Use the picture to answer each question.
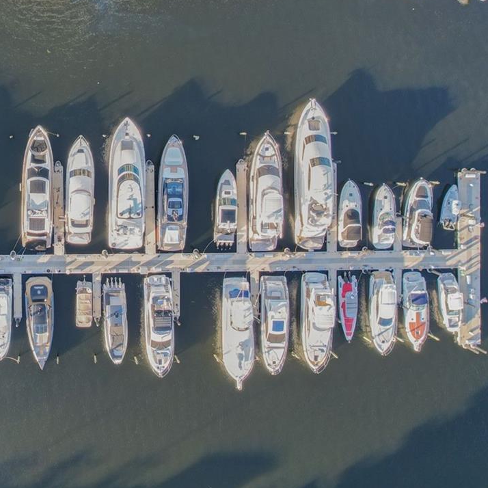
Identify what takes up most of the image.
water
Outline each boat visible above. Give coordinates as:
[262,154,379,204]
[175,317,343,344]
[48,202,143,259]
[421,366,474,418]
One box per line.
[253,271,294,376]
[96,272,136,365]
[106,116,145,255]
[208,138,243,252]
[246,130,286,254]
[59,135,100,254]
[140,272,176,379]
[16,124,54,255]
[0,277,18,360]
[400,177,436,253]
[438,179,470,236]
[292,271,340,375]
[368,183,399,248]
[152,133,192,254]
[217,271,273,390]
[288,98,333,256]
[365,270,398,358]
[59,271,95,359]
[398,271,429,351]
[333,271,365,351]
[333,179,369,256]
[434,271,466,336]
[25,271,56,369]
